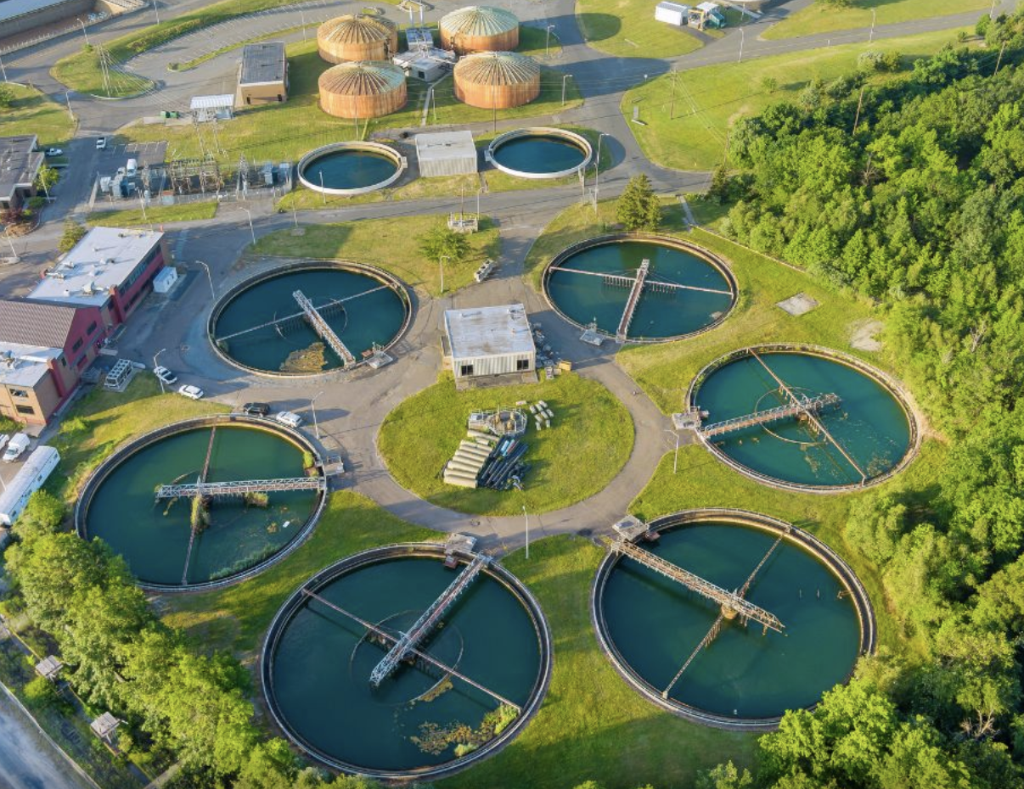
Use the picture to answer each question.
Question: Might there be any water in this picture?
Yes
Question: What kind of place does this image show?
industrial area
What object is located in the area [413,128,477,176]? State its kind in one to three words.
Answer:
building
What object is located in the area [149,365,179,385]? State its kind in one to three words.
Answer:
vehicle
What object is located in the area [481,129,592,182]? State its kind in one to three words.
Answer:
water tank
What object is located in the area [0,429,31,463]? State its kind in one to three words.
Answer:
van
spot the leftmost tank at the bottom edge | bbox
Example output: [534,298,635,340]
[261,539,554,786]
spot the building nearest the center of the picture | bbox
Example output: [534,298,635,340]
[436,302,539,393]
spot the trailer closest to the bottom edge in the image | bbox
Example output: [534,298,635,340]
[0,447,60,543]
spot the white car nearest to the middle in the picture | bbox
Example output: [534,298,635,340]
[273,409,304,428]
